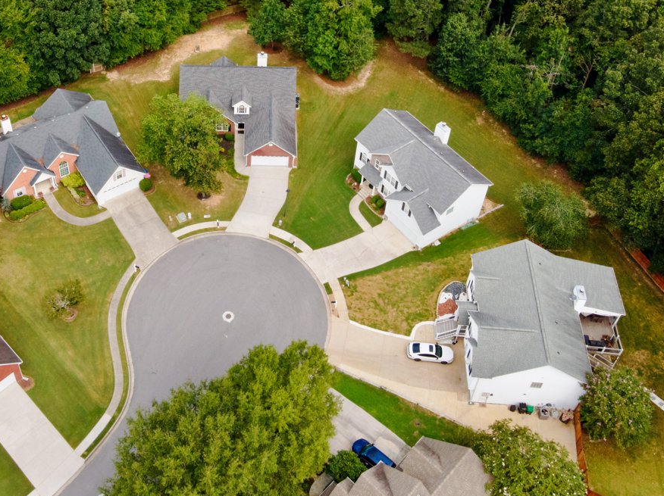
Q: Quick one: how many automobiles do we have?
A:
2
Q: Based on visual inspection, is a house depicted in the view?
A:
Yes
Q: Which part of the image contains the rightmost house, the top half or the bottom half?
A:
bottom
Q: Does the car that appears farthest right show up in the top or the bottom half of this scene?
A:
bottom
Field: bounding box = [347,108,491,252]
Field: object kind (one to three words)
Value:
house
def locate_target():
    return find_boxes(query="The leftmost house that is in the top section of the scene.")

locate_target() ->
[0,85,144,207]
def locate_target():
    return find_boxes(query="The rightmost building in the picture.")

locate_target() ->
[421,237,632,412]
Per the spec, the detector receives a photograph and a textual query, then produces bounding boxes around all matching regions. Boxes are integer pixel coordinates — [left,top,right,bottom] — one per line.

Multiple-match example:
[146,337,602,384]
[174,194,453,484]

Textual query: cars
[353,434,391,460]
[407,339,456,362]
